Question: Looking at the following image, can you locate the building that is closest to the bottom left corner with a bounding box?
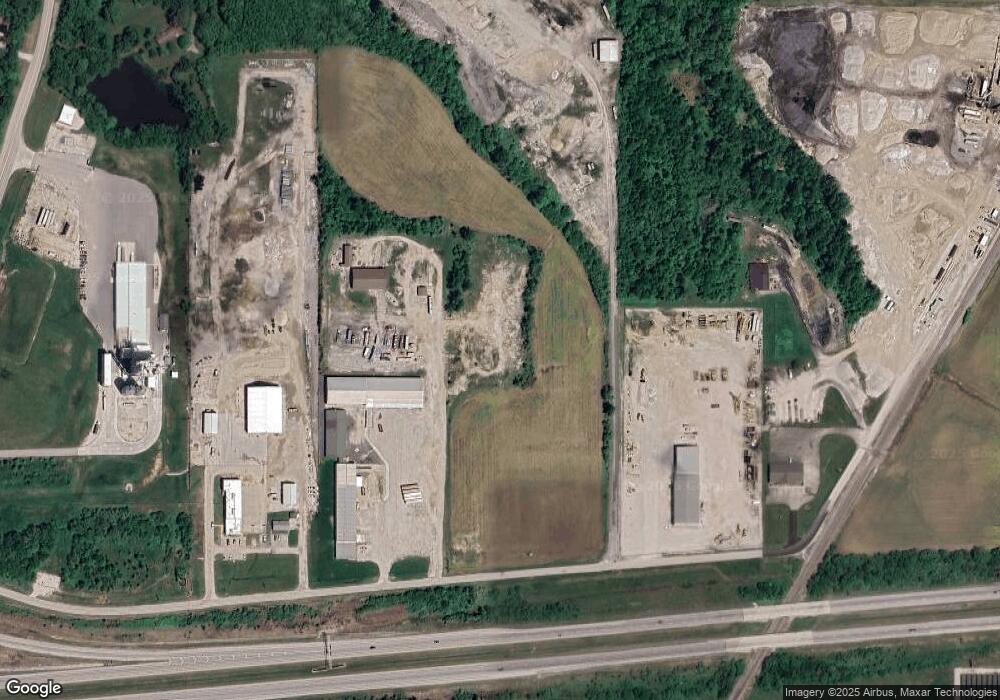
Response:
[226,479,241,535]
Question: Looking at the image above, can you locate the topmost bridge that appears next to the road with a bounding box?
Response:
[742,600,832,623]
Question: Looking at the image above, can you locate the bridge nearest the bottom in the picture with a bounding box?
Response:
[725,632,814,655]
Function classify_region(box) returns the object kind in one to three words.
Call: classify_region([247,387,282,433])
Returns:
barn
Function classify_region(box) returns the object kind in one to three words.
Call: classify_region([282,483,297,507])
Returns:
building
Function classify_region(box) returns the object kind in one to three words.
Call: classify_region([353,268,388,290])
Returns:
shed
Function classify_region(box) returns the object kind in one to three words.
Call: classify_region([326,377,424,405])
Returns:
building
